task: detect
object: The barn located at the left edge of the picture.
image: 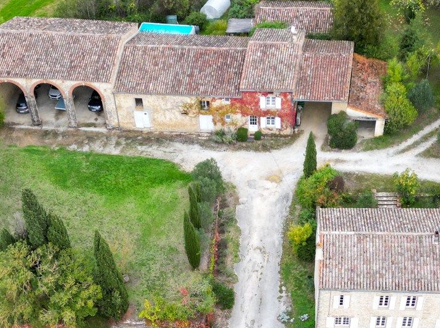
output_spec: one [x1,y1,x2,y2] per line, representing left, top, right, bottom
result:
[0,16,141,129]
